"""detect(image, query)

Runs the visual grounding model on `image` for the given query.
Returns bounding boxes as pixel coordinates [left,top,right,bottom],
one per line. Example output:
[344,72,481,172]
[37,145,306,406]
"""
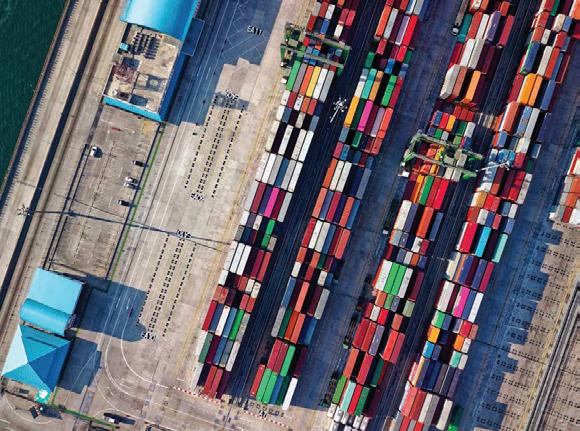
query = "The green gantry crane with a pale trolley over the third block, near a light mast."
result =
[396,130,484,185]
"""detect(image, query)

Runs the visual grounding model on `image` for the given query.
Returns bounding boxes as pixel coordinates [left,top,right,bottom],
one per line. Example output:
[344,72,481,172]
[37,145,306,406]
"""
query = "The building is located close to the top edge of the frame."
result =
[99,0,215,126]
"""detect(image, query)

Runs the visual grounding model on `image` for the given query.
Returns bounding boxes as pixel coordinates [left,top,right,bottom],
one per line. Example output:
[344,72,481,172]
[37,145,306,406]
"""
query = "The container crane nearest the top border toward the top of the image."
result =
[276,23,353,86]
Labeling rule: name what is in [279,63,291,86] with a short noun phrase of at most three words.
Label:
vehicle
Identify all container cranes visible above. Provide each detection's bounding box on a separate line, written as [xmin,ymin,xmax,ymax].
[396,130,484,185]
[276,23,353,86]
